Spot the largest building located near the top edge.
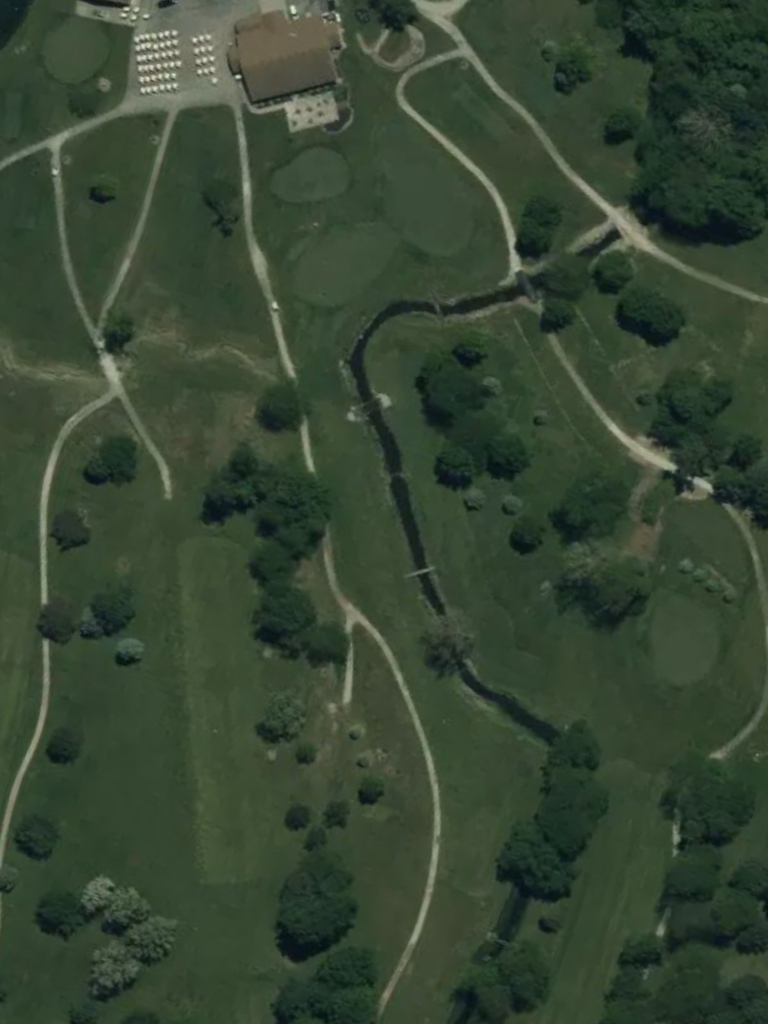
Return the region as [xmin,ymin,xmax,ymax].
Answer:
[227,8,343,102]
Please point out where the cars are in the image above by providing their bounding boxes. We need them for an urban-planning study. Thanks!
[158,0,178,6]
[328,0,337,12]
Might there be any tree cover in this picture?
Yes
